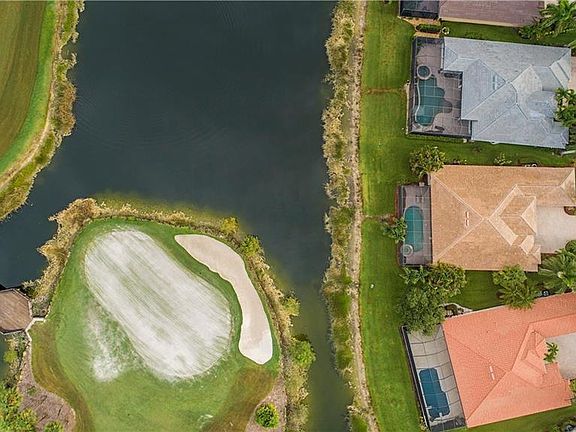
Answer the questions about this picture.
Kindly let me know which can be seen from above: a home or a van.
home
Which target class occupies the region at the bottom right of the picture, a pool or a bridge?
pool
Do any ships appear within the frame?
No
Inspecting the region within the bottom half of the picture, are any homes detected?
Yes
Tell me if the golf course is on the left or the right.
left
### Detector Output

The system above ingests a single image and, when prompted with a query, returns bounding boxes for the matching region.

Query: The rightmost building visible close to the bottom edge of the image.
[442,292,576,428]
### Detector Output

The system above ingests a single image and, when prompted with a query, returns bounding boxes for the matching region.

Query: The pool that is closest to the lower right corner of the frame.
[420,368,452,423]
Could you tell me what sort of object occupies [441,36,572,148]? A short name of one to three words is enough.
house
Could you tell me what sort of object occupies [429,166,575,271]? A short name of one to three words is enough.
house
